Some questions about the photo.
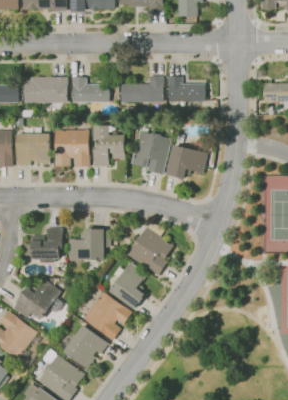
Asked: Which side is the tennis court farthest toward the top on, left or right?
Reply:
right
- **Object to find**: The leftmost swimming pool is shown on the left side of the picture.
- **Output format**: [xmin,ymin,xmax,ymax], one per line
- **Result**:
[24,264,48,276]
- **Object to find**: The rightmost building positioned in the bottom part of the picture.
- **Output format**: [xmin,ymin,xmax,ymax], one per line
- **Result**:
[129,228,175,276]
